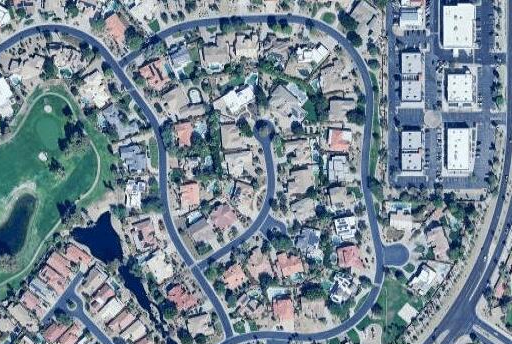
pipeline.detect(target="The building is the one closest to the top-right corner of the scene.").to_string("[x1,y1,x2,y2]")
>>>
[443,2,477,48]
